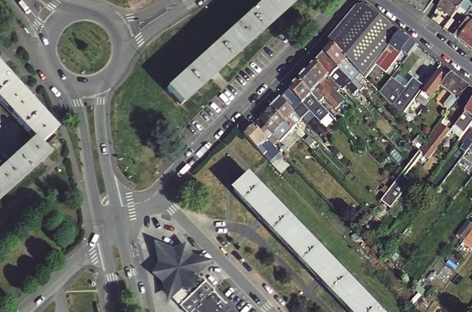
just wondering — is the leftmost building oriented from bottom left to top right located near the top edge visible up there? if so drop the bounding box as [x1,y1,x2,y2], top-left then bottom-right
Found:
[166,0,298,105]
